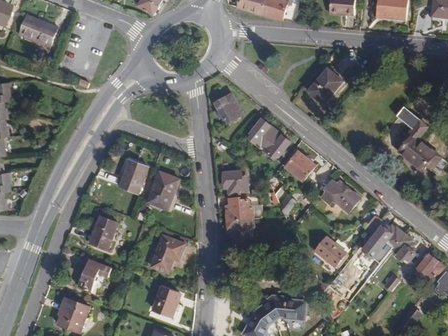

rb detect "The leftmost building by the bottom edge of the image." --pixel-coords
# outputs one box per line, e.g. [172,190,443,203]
[54,296,92,336]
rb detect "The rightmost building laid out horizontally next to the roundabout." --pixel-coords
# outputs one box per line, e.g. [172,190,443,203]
[235,0,289,24]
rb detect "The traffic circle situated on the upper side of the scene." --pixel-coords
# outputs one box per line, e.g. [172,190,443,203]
[126,0,234,95]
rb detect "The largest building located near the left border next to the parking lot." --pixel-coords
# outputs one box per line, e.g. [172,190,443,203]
[18,14,60,50]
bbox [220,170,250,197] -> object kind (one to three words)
house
